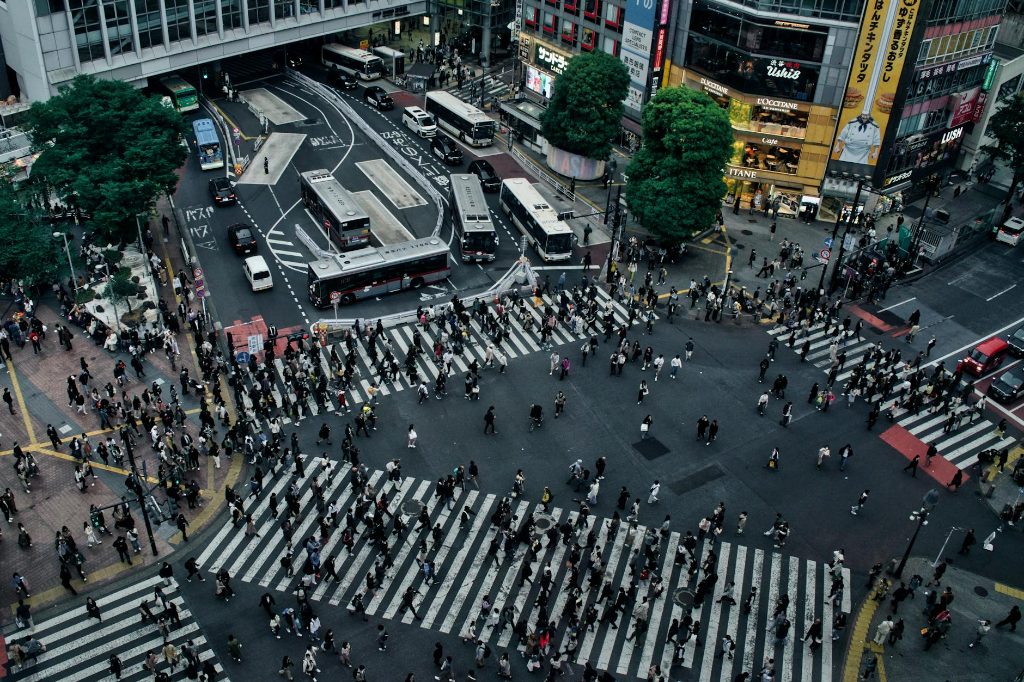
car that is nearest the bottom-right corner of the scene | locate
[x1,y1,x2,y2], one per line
[990,357,1024,401]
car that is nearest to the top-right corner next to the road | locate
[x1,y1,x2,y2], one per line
[997,212,1024,244]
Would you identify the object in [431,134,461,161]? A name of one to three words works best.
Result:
car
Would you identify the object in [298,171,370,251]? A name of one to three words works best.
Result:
bus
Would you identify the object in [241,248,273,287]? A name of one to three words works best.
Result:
van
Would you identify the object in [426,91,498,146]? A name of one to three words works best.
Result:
bus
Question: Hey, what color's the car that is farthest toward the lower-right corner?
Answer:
black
